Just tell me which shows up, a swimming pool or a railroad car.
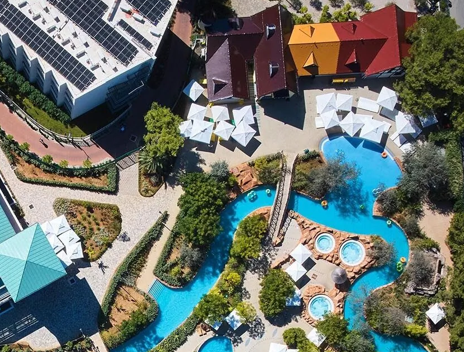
swimming pool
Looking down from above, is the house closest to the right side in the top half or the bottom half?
top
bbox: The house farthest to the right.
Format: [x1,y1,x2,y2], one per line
[285,4,418,83]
